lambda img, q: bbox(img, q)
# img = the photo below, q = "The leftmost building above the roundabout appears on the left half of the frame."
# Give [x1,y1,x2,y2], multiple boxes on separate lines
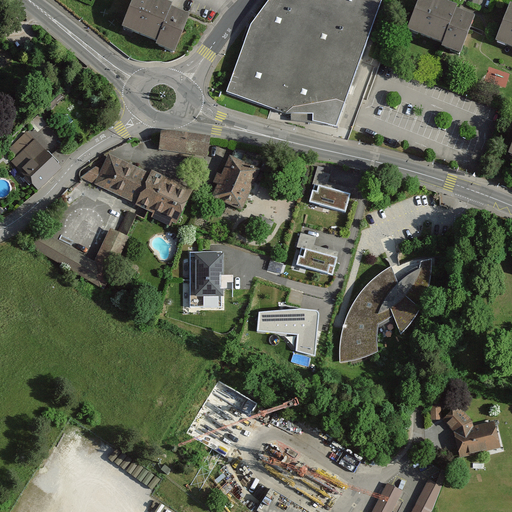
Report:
[122,0,172,44]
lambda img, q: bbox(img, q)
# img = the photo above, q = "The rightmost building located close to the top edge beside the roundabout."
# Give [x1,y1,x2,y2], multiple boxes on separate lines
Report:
[227,0,376,128]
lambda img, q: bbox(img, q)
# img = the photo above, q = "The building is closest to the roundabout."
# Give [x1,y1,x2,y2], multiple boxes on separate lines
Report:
[159,130,210,157]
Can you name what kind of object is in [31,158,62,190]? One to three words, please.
building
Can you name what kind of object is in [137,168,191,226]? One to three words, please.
house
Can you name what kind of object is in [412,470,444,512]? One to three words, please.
barn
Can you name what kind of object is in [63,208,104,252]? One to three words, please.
sports court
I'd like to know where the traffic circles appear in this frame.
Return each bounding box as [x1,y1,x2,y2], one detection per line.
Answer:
[106,52,222,138]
